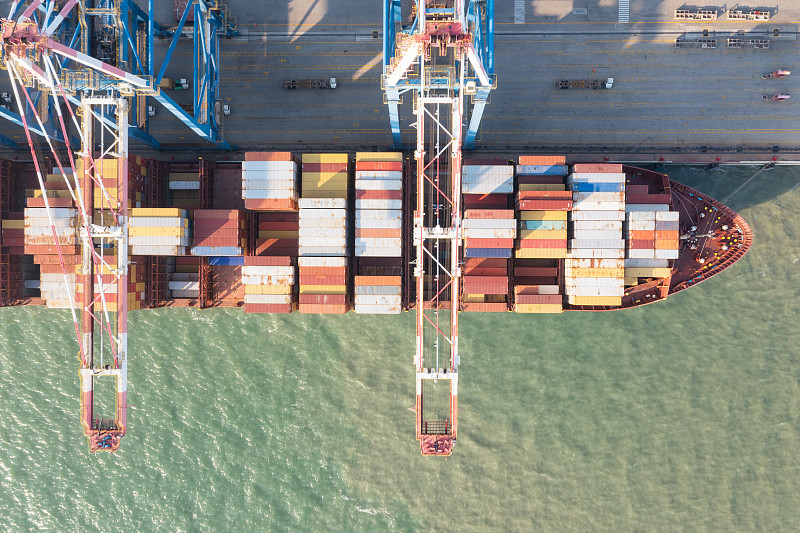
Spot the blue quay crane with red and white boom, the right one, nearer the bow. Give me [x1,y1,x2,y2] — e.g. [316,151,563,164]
[373,0,497,463]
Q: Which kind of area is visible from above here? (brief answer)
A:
port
